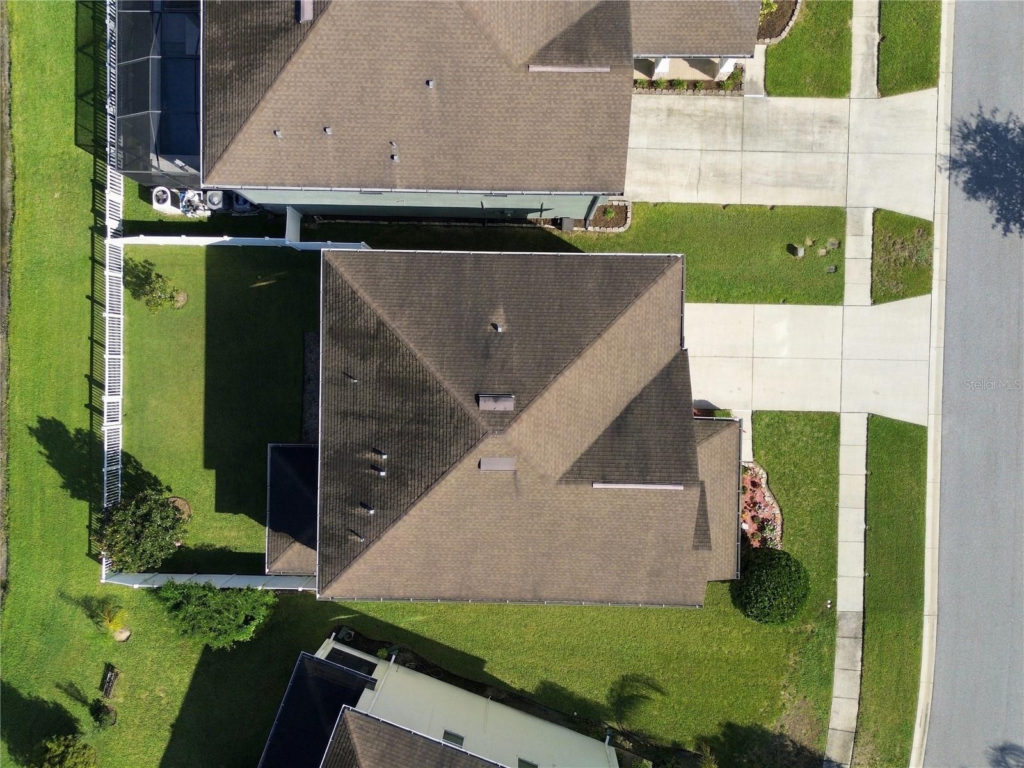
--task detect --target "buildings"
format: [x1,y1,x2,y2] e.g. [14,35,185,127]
[259,626,615,768]
[263,248,742,606]
[203,0,760,225]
